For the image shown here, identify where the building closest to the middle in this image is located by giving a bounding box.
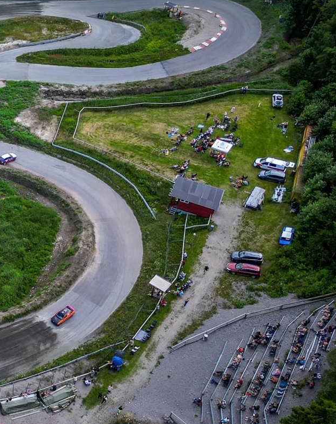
[154,173,221,221]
